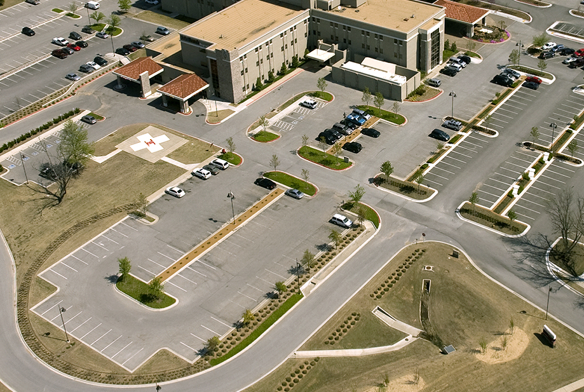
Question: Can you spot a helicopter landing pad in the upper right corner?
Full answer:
No, there is no helicopter landing pad in the upper right corner.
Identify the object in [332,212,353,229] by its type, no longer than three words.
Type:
car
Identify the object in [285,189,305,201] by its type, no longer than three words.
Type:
vehicle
